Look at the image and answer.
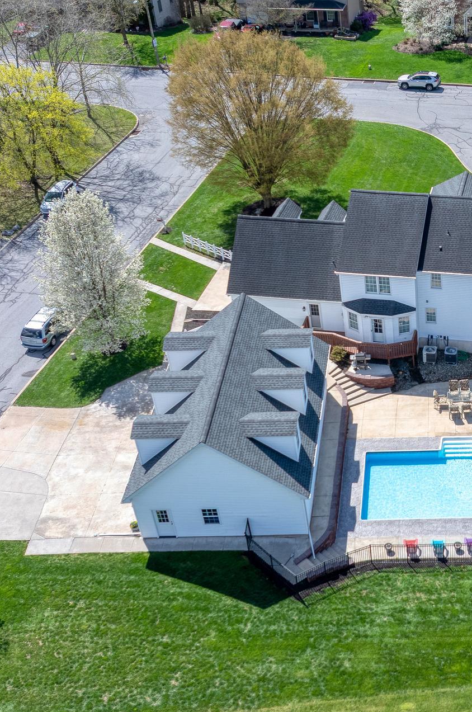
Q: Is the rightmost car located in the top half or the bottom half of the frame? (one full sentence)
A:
You can find the rightmost car in the top half.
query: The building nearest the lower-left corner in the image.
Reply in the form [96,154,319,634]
[119,291,332,558]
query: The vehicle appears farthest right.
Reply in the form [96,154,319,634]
[396,68,442,91]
